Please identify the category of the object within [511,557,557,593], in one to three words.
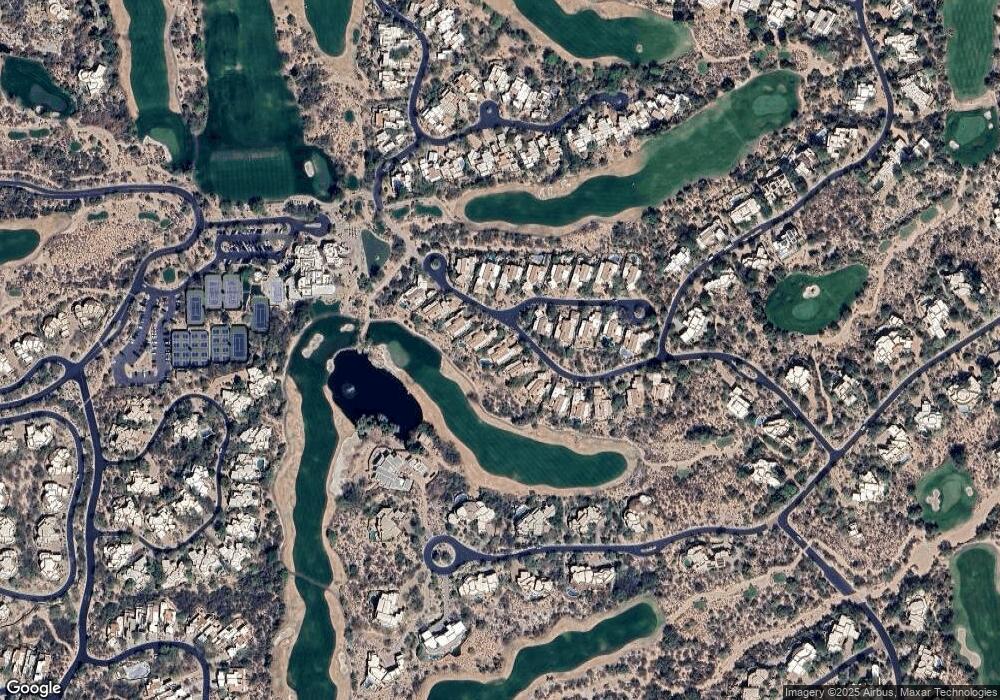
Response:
house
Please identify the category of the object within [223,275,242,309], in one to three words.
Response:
tennis court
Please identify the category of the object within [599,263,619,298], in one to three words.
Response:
house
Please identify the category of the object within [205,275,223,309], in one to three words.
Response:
tennis court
